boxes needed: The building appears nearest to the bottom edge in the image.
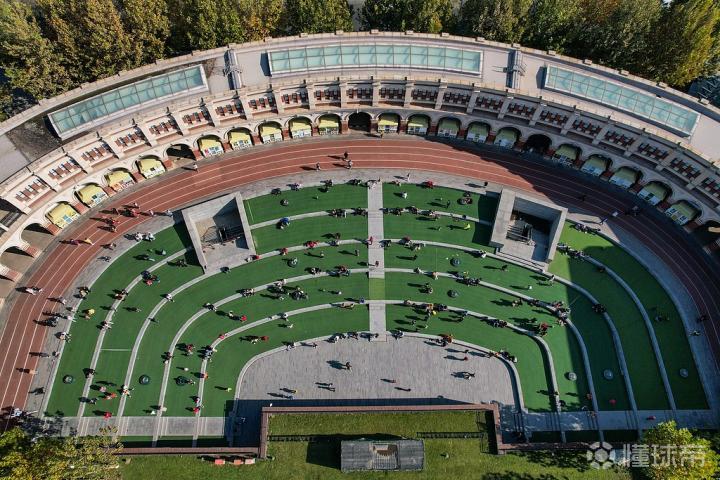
[340,440,425,472]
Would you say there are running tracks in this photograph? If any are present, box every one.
[0,137,720,460]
